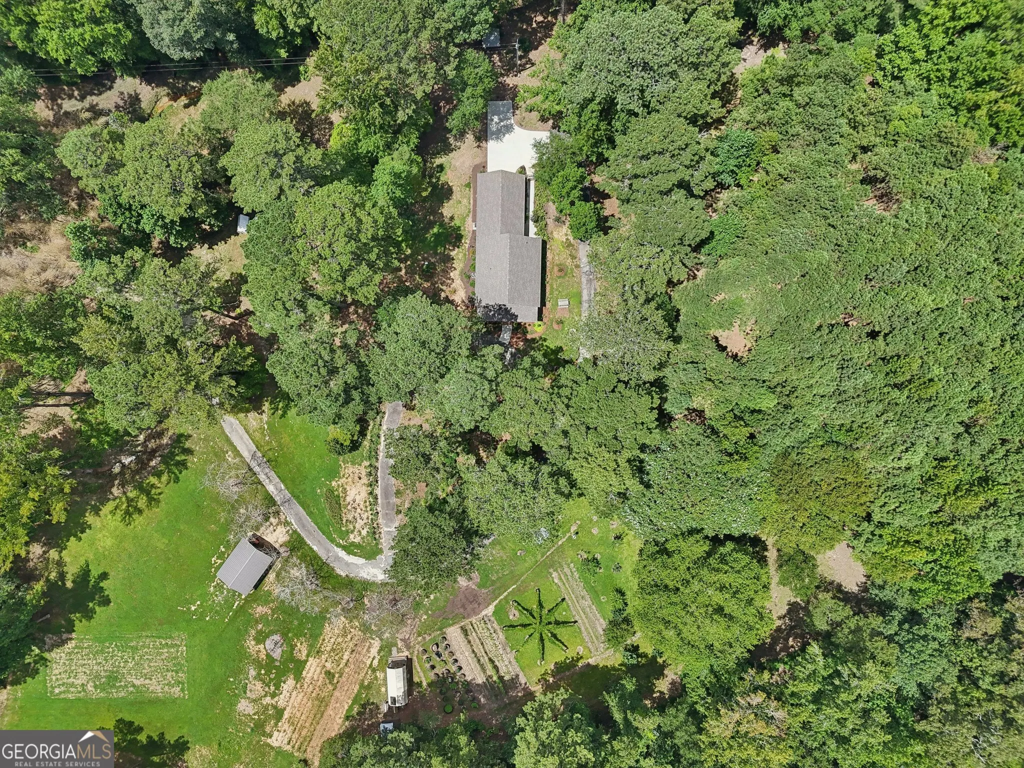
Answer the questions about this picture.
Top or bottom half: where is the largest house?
top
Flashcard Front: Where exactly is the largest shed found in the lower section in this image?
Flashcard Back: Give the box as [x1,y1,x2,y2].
[217,527,283,596]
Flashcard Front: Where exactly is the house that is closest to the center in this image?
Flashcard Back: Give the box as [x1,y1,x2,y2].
[470,169,542,323]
